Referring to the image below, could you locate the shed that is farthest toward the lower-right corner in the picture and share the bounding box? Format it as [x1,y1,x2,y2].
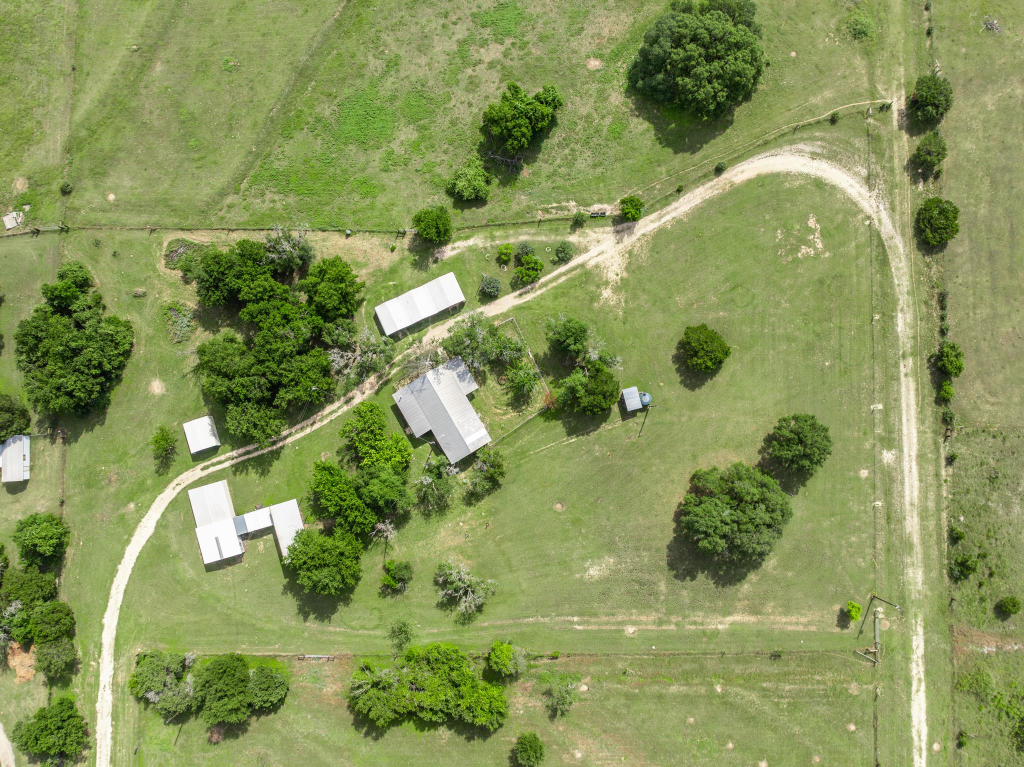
[622,386,642,411]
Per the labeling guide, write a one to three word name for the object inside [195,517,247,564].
barn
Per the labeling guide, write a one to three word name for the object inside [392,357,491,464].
house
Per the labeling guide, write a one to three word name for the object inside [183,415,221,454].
shed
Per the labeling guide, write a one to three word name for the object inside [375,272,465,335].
shed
